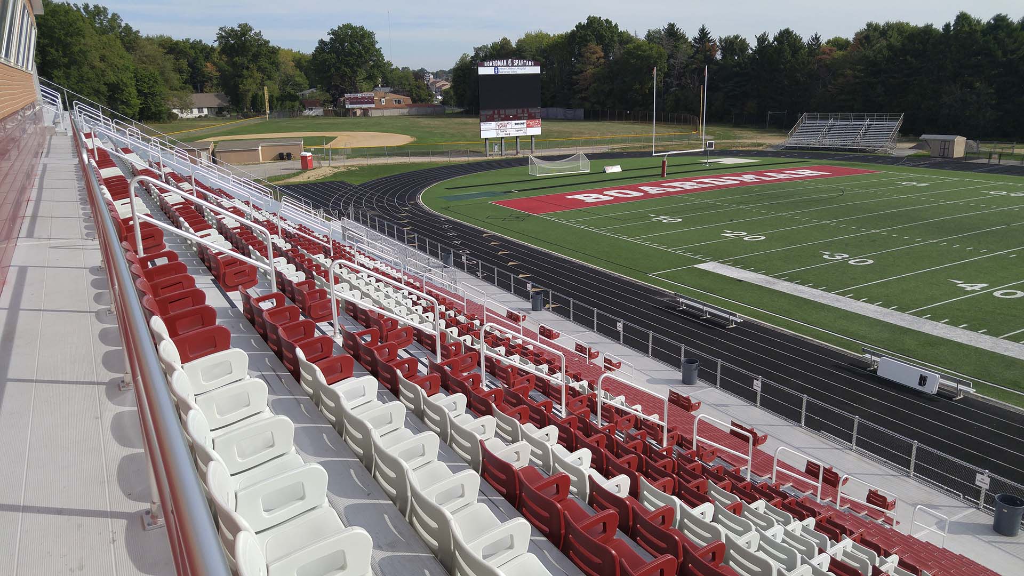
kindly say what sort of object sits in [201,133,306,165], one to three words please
building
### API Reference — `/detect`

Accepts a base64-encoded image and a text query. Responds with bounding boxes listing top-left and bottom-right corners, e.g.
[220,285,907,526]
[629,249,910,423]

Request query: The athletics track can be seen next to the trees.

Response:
[332,150,1024,524]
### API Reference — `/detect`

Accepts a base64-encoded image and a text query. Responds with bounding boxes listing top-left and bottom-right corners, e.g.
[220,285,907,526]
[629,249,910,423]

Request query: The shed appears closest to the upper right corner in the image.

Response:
[921,132,970,157]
